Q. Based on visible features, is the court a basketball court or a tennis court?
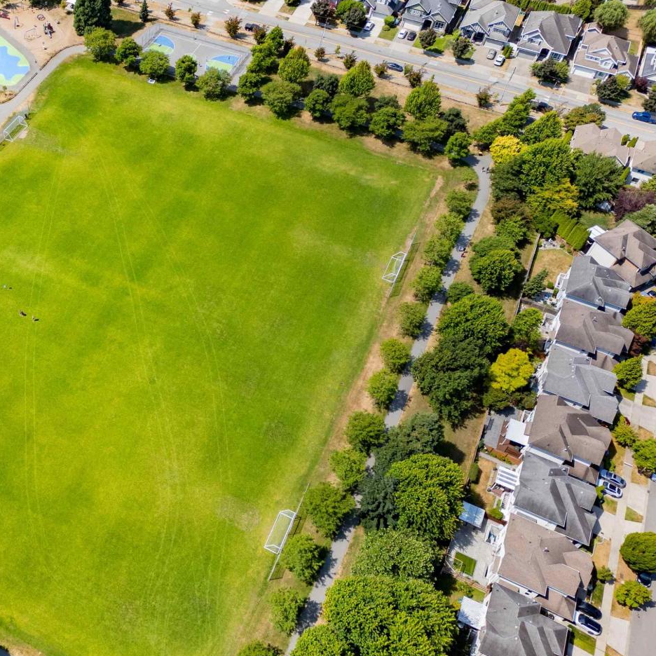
basketball court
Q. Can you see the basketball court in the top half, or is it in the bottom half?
top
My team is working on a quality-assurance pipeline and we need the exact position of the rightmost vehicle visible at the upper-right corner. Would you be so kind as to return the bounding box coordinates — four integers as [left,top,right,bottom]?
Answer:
[633,112,656,124]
